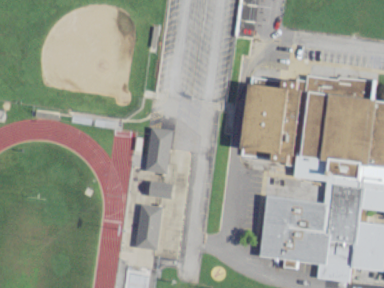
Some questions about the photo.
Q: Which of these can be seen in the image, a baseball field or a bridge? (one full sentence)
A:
The one in the frame is a baseball field.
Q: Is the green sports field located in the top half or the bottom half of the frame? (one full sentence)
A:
The green sports field is in the bottom half of the image.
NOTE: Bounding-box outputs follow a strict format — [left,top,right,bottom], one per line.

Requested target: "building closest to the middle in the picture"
[145,128,174,172]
